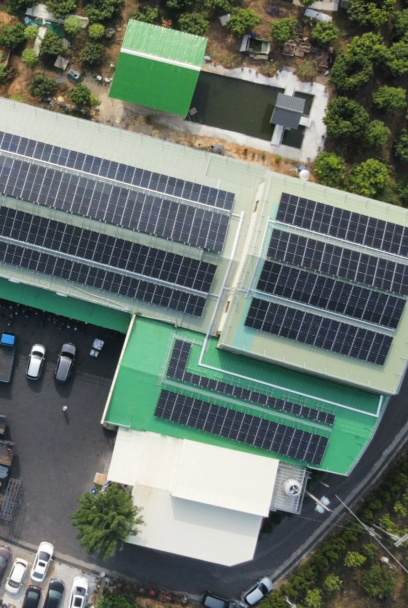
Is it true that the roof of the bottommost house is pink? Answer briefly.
No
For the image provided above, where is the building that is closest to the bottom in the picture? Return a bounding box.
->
[107,427,279,566]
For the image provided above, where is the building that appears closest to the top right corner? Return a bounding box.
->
[265,87,313,145]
